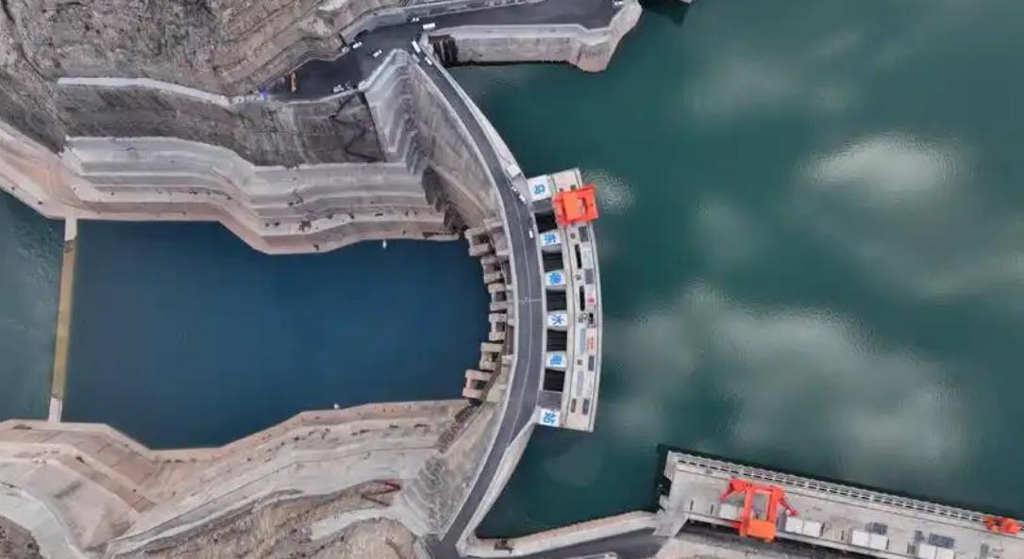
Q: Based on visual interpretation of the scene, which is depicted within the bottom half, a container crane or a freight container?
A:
container crane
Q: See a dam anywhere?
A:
Yes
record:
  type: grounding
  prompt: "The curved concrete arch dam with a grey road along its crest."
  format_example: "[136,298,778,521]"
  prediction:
[406,54,603,545]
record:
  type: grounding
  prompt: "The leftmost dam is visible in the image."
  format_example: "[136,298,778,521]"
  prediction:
[48,217,76,424]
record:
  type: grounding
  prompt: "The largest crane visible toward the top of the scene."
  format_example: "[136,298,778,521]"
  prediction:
[552,181,602,224]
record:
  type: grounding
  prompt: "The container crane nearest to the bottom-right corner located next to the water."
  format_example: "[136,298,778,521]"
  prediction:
[724,481,791,549]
